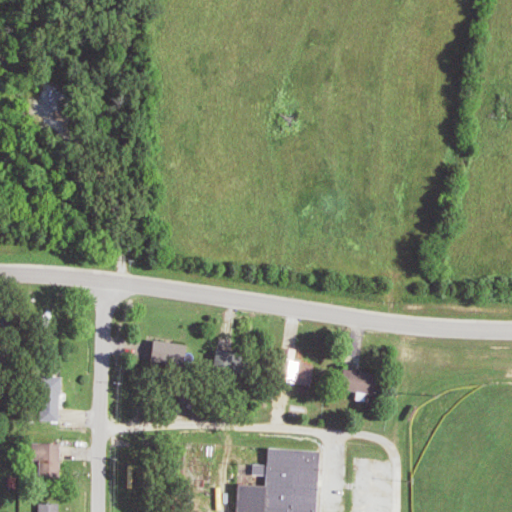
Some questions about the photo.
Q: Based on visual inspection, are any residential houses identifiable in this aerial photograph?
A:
Yes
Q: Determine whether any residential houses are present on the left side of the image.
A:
Yes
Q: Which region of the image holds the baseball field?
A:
bottom right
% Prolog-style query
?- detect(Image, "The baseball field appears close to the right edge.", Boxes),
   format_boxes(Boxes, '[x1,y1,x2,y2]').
[410,382,512,512]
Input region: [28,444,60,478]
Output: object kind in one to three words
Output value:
house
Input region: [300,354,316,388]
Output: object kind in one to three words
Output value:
house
